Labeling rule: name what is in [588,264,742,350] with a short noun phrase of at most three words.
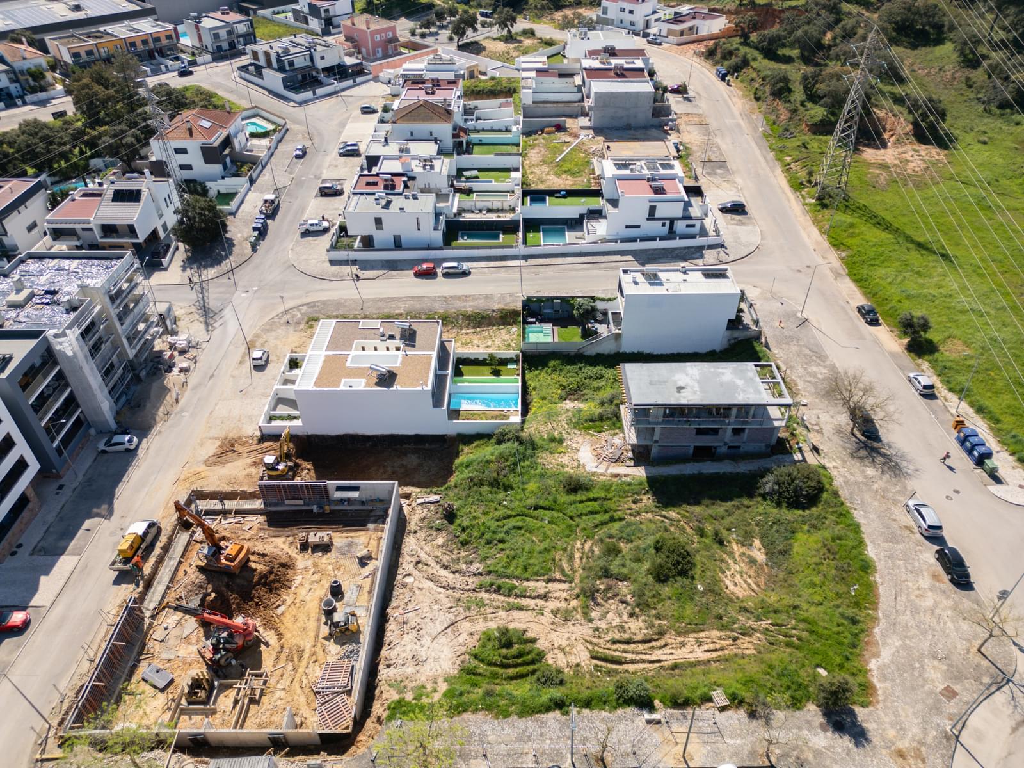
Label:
house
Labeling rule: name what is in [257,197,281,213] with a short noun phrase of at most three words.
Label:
vehicle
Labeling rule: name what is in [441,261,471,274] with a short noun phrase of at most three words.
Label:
vehicle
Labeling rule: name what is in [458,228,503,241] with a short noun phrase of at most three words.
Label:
swimming pool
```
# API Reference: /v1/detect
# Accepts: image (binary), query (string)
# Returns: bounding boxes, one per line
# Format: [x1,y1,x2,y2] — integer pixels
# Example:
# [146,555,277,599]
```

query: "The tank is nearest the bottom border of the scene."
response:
[139,663,175,697]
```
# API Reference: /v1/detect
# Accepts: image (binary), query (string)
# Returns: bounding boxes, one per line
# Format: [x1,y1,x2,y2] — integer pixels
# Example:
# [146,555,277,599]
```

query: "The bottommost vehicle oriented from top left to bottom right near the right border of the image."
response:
[926,542,981,589]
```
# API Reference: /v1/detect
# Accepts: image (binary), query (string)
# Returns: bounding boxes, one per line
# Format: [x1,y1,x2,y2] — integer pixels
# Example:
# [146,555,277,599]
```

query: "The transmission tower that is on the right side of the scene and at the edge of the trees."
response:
[817,24,899,200]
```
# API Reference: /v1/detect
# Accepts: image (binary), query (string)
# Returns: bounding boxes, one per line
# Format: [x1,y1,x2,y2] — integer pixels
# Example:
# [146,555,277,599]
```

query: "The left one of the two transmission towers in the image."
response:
[147,79,195,204]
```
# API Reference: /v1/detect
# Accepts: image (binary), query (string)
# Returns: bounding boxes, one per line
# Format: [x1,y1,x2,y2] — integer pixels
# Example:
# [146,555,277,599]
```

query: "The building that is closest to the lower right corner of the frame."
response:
[609,364,792,457]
